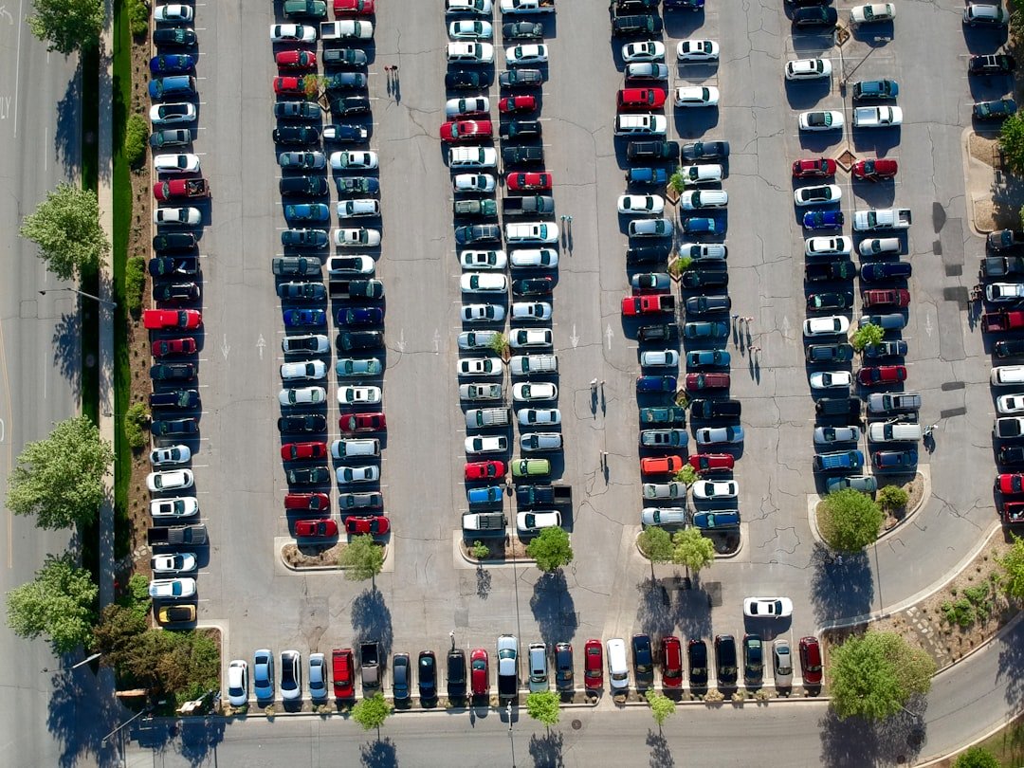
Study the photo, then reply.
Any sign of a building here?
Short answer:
No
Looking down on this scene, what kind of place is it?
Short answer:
parking lot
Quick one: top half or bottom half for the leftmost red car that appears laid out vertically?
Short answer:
bottom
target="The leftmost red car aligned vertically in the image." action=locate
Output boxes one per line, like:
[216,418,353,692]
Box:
[332,648,354,697]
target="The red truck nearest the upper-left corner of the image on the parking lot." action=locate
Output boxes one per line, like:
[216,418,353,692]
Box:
[153,177,211,201]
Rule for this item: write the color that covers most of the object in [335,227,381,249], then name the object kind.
white car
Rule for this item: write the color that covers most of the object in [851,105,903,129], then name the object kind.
white truck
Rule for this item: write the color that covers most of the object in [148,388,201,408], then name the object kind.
black vehicle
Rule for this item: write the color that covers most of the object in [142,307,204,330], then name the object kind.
red truck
